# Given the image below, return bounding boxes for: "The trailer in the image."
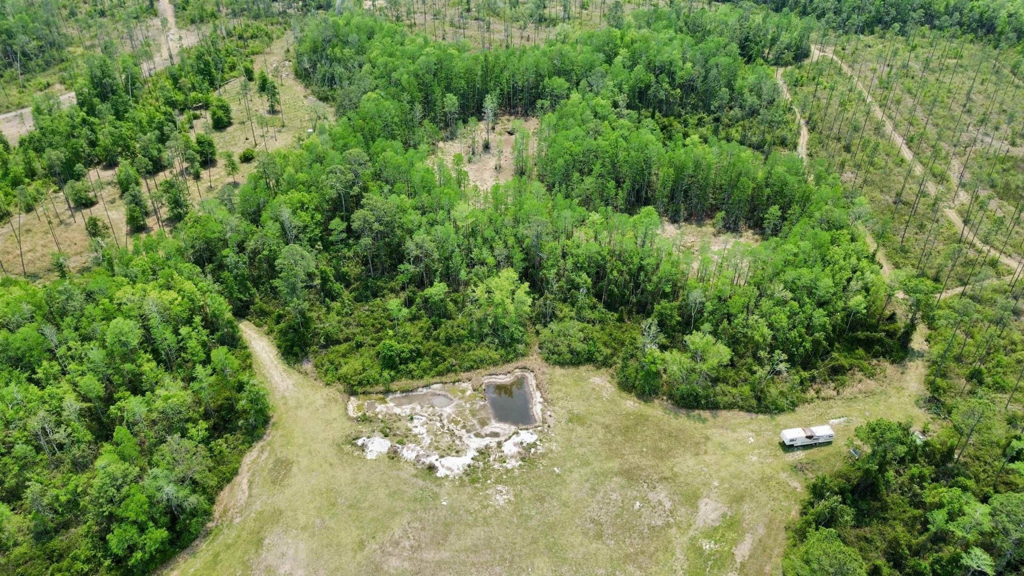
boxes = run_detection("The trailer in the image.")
[781,423,836,446]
